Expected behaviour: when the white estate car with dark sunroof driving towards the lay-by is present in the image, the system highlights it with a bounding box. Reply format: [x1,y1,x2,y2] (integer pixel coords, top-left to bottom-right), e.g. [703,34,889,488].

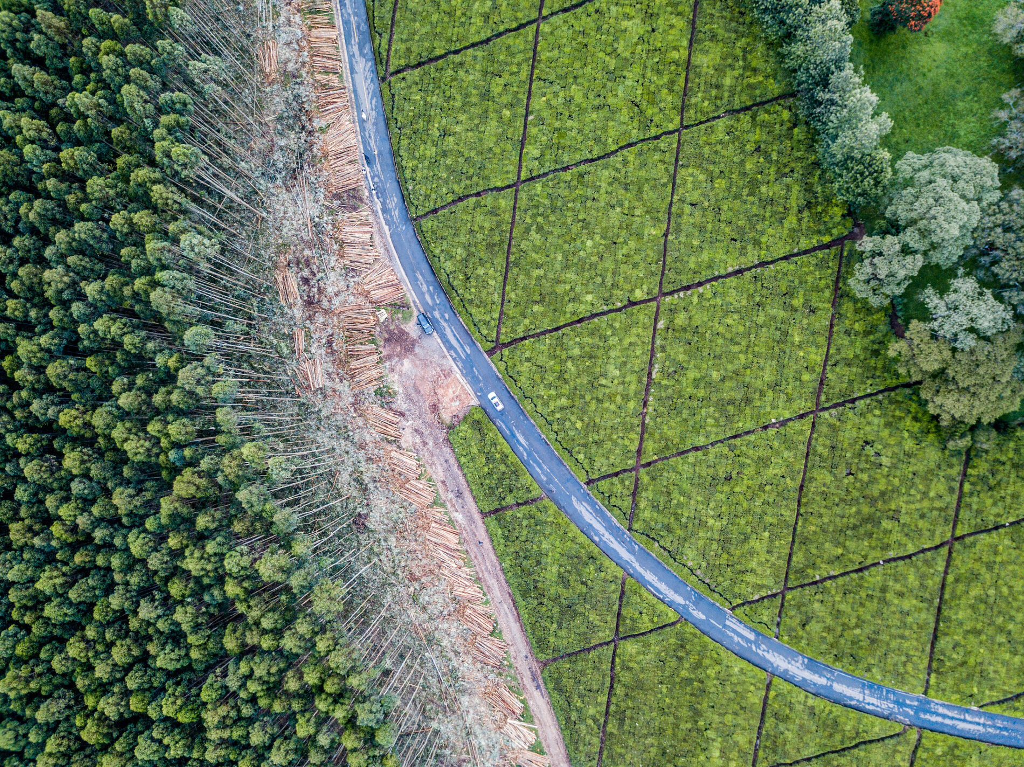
[488,392,504,411]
